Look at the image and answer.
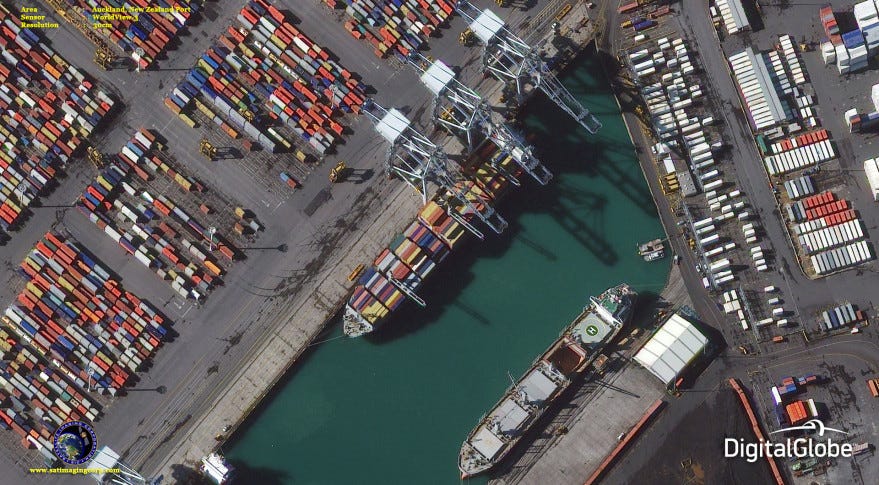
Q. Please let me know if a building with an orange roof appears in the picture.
No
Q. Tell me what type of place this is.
port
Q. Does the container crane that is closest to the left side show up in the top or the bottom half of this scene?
bottom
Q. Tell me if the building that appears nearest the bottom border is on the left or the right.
right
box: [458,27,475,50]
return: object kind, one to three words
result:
work vehicle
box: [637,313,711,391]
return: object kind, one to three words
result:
building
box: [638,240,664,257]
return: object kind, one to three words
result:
ship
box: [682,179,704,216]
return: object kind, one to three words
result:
shed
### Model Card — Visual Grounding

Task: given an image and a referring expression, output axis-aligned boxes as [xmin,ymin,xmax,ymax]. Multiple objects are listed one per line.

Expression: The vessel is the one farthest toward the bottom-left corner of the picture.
[188,450,236,485]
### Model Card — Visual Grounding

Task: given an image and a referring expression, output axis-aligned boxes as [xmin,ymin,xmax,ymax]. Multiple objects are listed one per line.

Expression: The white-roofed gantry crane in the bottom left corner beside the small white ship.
[64,433,142,485]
